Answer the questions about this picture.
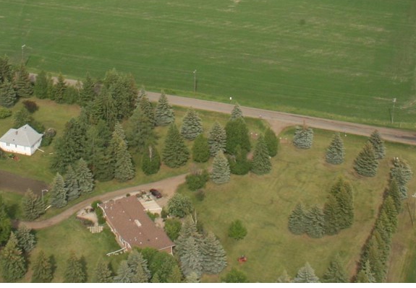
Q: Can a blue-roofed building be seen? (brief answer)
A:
No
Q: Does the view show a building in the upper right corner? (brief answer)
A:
No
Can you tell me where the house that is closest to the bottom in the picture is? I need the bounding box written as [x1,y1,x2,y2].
[95,193,171,260]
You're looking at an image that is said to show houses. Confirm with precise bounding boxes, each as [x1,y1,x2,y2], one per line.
[95,193,171,260]
[0,122,47,155]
